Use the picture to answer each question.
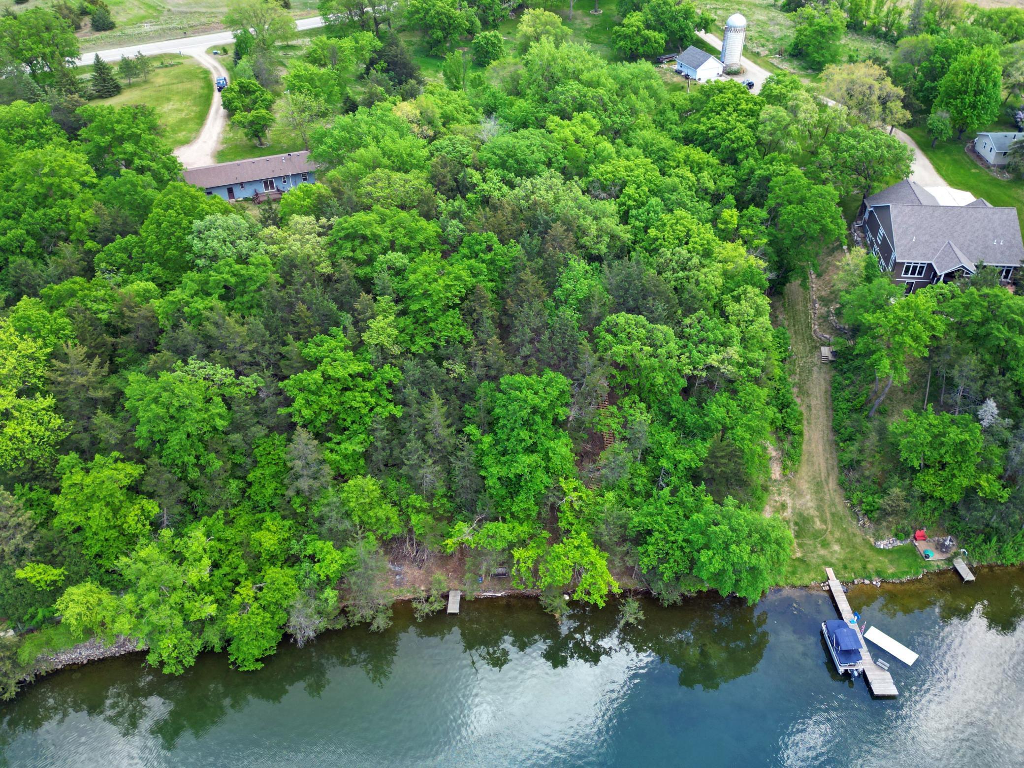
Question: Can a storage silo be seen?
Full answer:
Yes, a storage silo can be made out from above.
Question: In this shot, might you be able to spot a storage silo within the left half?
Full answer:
No, looking within the left half, there is no storage silo.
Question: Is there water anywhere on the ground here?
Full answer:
Yes, there is water in the image.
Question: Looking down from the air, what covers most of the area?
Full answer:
What you mostly see from above here is trees.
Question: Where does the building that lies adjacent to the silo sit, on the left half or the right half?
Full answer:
It is on the right.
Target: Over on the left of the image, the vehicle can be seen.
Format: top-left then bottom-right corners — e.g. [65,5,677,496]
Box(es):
[213,76,228,89]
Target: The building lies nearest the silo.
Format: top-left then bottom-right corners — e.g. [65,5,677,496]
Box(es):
[666,48,722,82]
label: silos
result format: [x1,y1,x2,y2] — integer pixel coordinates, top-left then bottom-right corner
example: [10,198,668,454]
[722,16,750,72]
